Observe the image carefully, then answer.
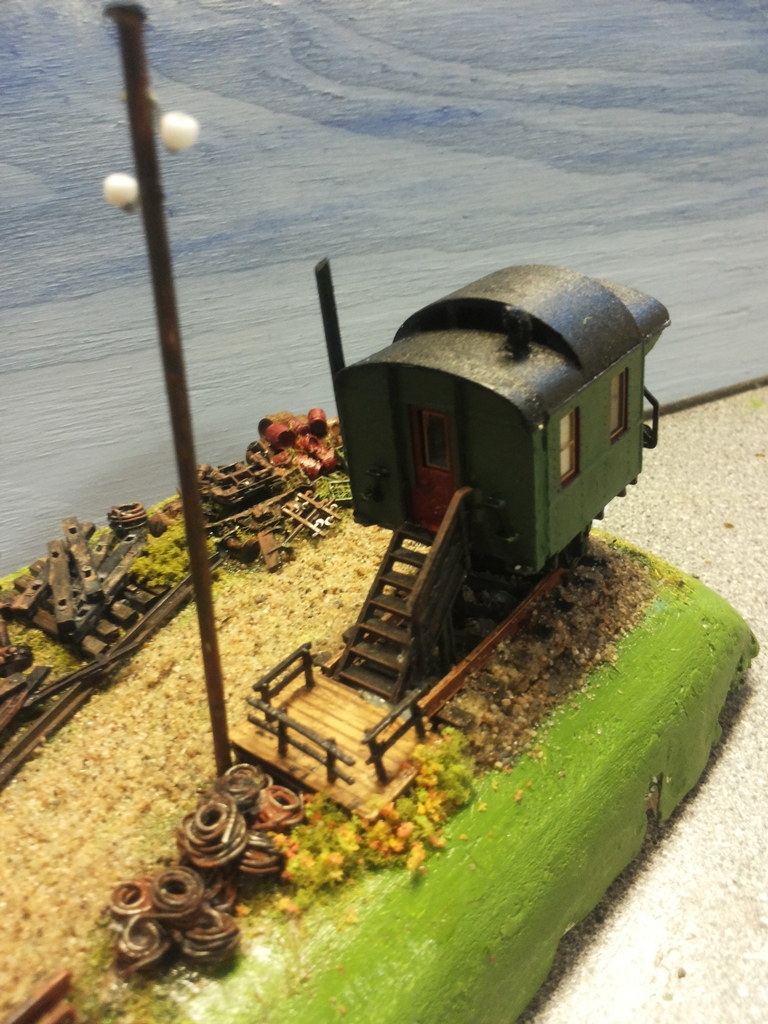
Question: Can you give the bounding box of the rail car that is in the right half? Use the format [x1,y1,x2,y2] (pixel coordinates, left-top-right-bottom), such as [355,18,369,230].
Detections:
[317,258,669,592]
